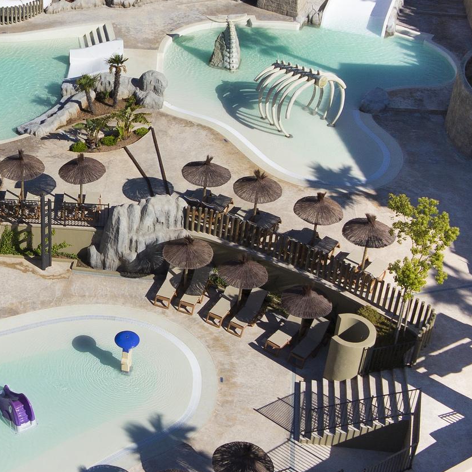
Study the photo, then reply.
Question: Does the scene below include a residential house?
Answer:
No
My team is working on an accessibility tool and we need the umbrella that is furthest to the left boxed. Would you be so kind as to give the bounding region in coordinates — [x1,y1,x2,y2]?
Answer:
[0,145,45,202]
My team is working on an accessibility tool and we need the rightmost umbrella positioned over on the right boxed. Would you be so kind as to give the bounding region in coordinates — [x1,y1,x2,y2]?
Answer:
[344,212,398,263]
